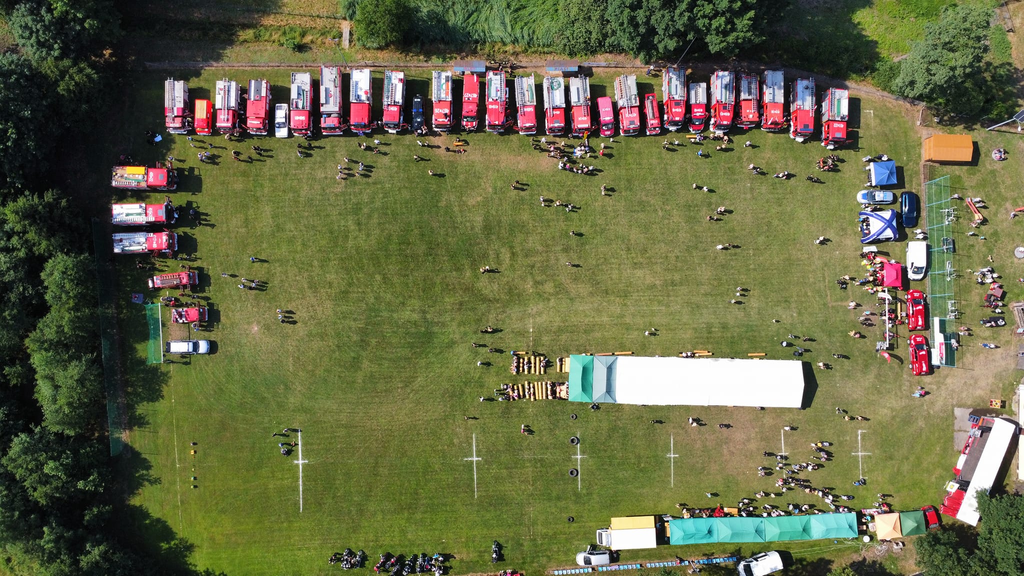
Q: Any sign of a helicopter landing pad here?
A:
No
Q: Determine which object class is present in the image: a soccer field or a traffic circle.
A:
soccer field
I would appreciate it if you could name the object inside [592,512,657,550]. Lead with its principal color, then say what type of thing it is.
white truck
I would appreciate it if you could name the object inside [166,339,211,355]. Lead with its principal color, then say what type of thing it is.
white car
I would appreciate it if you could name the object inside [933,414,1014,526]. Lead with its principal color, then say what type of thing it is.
white trailer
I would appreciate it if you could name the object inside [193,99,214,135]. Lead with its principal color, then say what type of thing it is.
red vehicle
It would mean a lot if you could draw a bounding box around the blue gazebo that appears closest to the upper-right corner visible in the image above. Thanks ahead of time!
[863,161,897,189]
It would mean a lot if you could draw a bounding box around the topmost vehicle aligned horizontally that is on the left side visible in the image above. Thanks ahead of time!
[111,162,180,191]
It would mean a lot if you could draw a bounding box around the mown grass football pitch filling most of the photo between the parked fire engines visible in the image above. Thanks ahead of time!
[150,106,895,559]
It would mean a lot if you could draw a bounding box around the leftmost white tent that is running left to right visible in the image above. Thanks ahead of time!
[614,355,804,408]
